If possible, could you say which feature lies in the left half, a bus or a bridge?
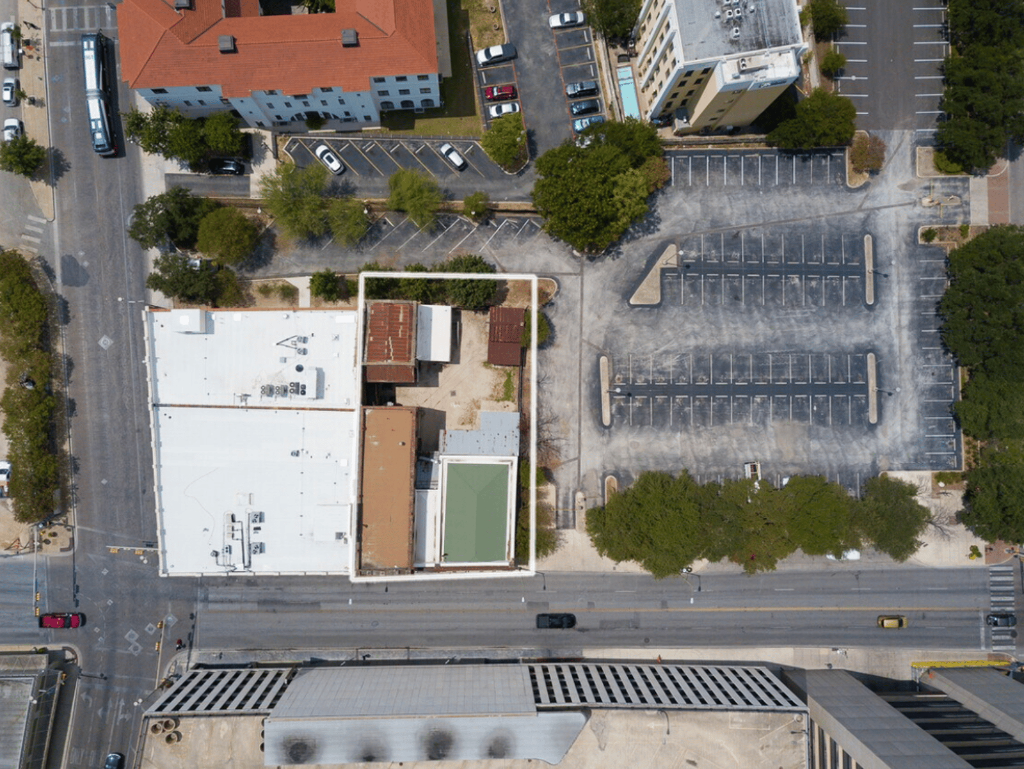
bus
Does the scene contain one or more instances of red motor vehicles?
Yes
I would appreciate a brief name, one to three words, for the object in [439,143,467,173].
car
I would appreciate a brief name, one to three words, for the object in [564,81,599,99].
vehicle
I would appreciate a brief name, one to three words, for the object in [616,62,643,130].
swimming pool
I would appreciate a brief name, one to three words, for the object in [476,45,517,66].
truck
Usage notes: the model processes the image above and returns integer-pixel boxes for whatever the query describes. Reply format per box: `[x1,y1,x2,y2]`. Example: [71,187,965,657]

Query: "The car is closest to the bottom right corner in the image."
[985,613,1015,629]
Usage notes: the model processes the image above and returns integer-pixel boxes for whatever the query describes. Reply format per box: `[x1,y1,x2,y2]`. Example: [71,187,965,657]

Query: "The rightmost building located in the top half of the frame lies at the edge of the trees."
[632,0,809,134]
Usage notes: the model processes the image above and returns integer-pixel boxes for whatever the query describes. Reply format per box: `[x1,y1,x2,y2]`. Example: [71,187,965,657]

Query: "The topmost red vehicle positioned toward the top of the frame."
[485,84,517,102]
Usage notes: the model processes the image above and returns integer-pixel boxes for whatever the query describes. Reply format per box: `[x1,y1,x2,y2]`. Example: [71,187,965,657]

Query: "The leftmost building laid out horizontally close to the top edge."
[118,0,452,135]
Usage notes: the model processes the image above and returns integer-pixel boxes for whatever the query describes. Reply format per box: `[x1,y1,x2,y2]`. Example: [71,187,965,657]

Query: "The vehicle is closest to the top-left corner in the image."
[0,24,25,74]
